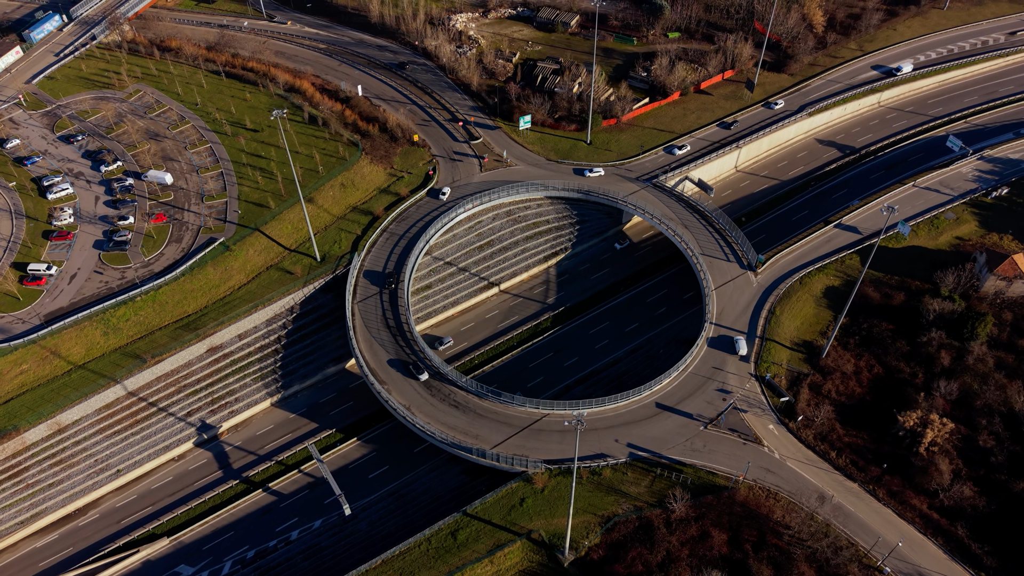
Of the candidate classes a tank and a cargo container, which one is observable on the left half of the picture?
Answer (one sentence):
You can see a cargo container on the left half of the picture.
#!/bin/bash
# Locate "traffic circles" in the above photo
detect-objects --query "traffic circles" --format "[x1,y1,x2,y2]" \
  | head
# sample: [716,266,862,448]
[346,159,770,473]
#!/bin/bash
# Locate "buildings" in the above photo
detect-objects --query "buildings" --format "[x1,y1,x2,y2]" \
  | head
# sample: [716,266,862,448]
[979,243,1024,295]
[0,42,23,73]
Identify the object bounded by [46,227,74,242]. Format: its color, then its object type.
red car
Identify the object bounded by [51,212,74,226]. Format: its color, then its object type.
white car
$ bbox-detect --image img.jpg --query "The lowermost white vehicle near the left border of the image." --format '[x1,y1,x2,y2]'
[23,260,57,276]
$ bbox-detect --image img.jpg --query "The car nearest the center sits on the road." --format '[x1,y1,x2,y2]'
[431,334,456,352]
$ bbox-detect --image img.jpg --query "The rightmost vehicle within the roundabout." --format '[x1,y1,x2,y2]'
[733,336,750,359]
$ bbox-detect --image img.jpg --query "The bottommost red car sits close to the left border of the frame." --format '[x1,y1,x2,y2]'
[20,274,47,287]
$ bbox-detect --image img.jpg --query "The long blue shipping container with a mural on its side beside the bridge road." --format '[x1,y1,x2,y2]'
[22,13,63,44]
